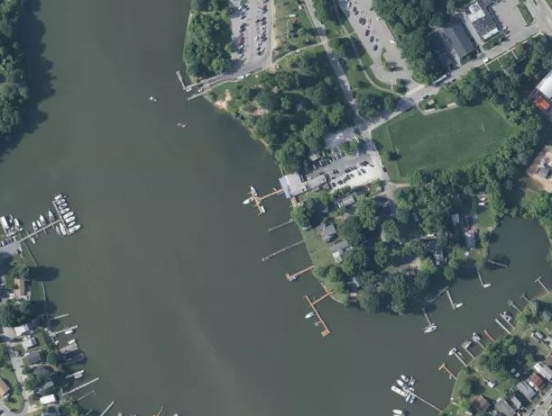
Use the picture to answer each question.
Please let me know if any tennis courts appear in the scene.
No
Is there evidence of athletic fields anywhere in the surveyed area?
Yes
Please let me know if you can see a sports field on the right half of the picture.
Yes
